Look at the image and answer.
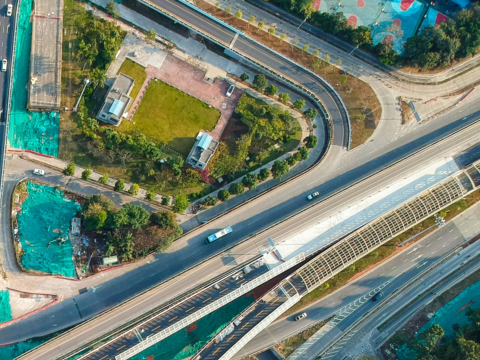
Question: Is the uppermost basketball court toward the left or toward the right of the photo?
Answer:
right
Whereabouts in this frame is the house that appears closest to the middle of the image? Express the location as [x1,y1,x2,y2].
[182,129,220,175]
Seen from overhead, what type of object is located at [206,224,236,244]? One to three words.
bus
